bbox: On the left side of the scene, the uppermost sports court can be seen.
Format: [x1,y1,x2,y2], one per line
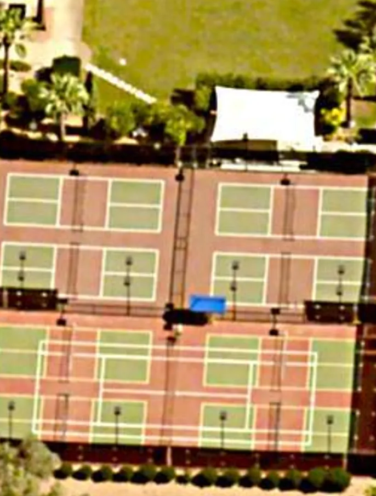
[3,174,166,231]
